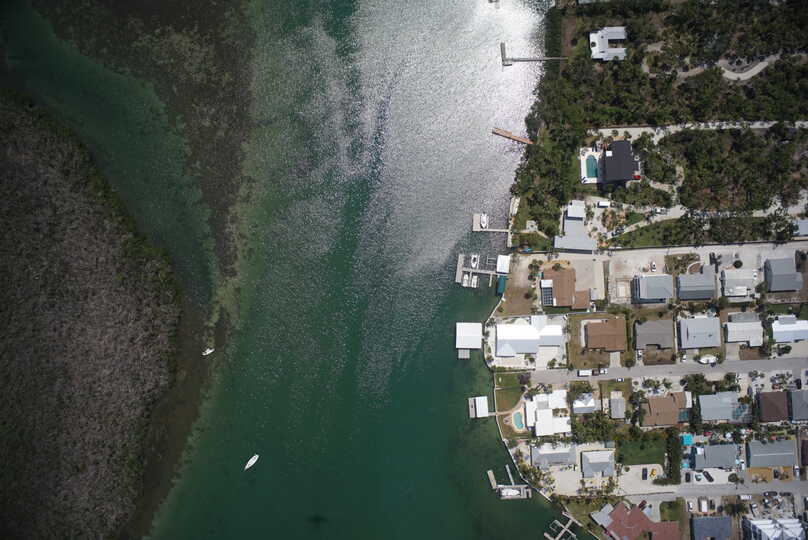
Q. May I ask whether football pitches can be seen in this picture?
No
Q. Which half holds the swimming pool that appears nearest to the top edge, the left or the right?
right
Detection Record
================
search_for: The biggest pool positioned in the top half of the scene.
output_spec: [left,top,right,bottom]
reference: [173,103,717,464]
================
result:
[581,148,602,183]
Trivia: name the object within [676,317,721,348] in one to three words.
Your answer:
house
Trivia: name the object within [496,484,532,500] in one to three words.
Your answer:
pier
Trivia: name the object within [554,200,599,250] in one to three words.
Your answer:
house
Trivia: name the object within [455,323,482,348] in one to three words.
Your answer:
building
